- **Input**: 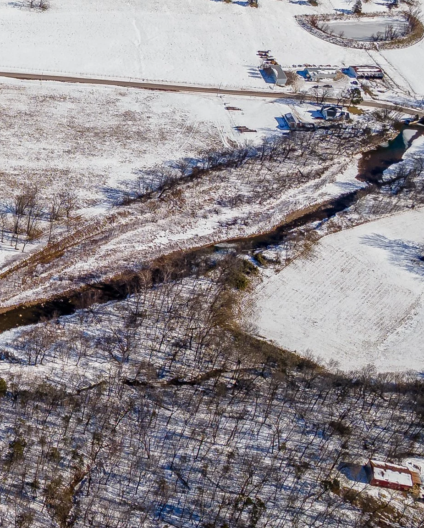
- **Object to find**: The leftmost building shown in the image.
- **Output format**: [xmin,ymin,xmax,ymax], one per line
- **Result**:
[268,63,291,85]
